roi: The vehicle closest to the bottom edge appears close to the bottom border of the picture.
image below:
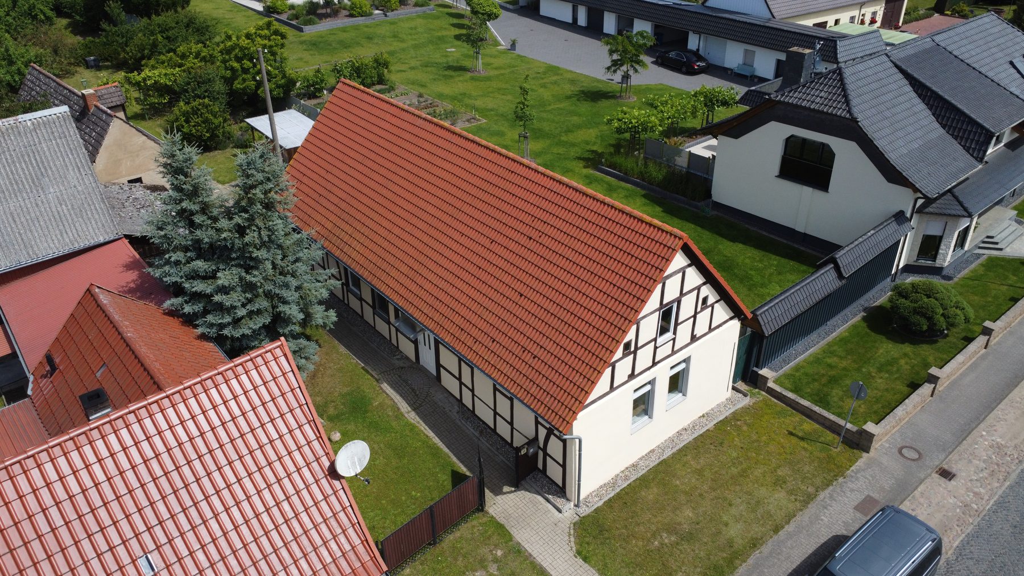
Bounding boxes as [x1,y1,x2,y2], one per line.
[816,507,939,576]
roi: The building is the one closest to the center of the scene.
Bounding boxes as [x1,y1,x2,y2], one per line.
[271,78,757,502]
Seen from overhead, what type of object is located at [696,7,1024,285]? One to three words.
house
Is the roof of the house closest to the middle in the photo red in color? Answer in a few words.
Yes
